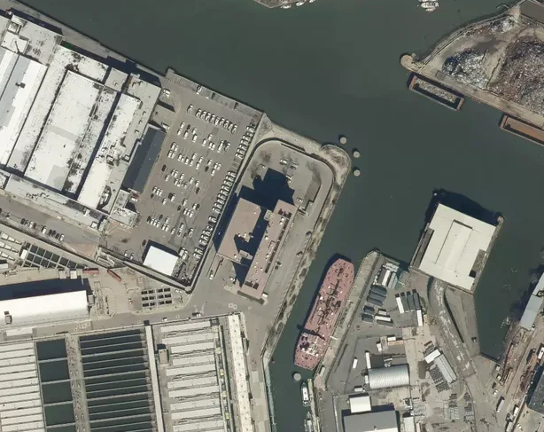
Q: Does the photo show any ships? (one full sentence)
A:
Yes, a ship can be made out from above.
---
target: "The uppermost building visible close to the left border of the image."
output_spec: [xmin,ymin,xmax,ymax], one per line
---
[0,17,161,232]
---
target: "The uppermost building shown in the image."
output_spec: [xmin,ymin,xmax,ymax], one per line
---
[519,1,544,24]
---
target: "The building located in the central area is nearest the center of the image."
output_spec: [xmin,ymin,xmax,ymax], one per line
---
[217,197,298,301]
